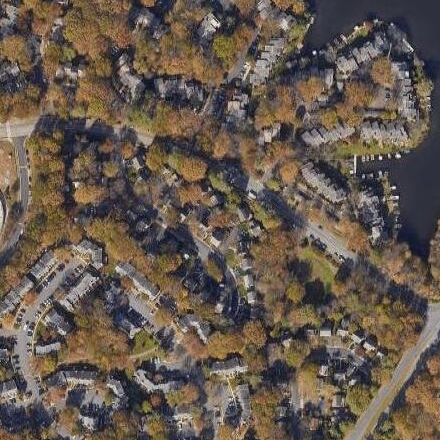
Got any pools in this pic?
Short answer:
No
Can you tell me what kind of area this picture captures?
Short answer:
residential area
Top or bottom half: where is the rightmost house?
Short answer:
top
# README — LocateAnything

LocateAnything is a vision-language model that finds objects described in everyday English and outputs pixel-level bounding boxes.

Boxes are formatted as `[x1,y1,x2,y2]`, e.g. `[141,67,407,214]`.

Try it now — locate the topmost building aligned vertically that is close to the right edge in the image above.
[391,59,422,120]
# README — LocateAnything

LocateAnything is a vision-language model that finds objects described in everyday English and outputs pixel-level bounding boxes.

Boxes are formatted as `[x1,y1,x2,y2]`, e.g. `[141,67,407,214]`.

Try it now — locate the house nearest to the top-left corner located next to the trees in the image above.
[0,4,22,32]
